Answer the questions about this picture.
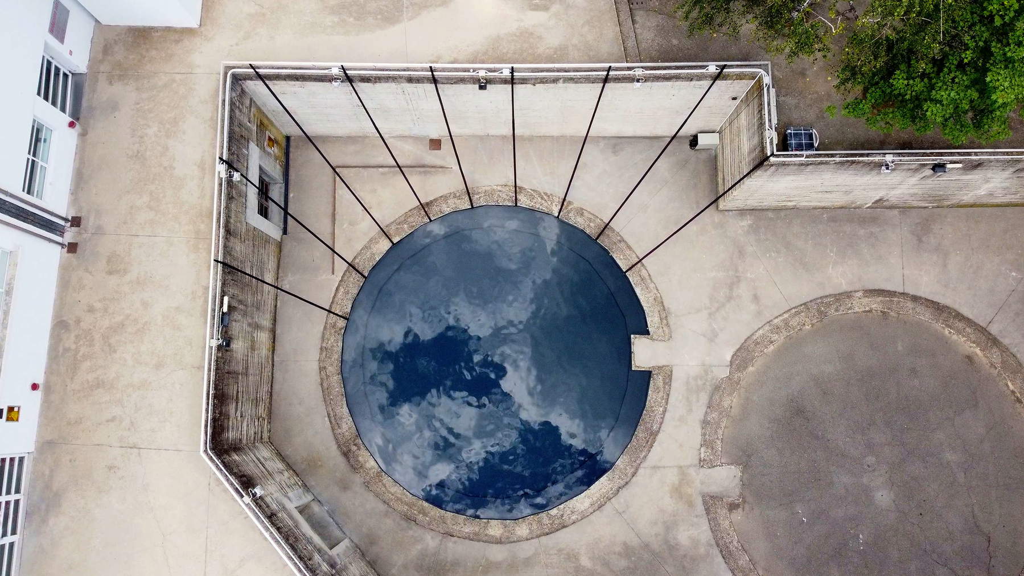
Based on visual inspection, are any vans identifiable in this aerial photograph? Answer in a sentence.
No, I can't see a single van in this photo.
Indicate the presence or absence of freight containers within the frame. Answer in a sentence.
No, no freight container can be seen from above.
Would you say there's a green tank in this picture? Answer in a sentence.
No, I can see no green tank in this picture.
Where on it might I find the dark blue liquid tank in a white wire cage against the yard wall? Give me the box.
[776,122,821,152]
